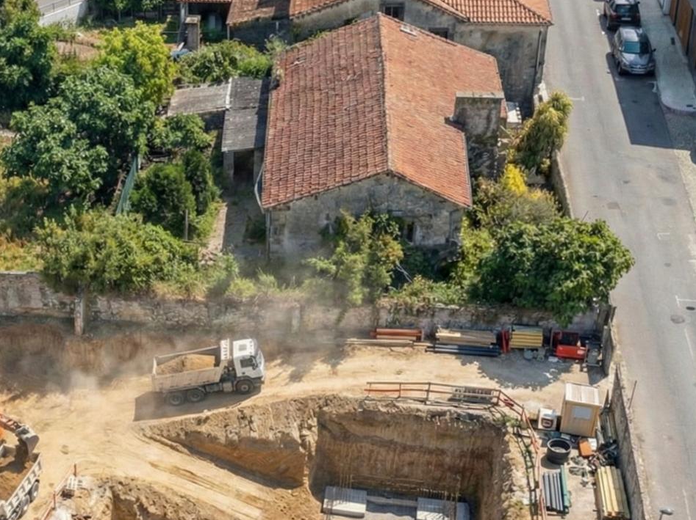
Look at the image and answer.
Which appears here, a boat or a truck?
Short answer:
truck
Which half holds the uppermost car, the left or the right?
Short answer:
right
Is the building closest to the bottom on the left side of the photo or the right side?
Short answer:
right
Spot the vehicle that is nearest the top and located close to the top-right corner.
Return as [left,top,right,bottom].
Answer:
[602,0,642,25]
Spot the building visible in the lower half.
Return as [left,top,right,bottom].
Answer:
[560,378,604,436]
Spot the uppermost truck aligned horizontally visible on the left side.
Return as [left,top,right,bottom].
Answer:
[145,340,268,411]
